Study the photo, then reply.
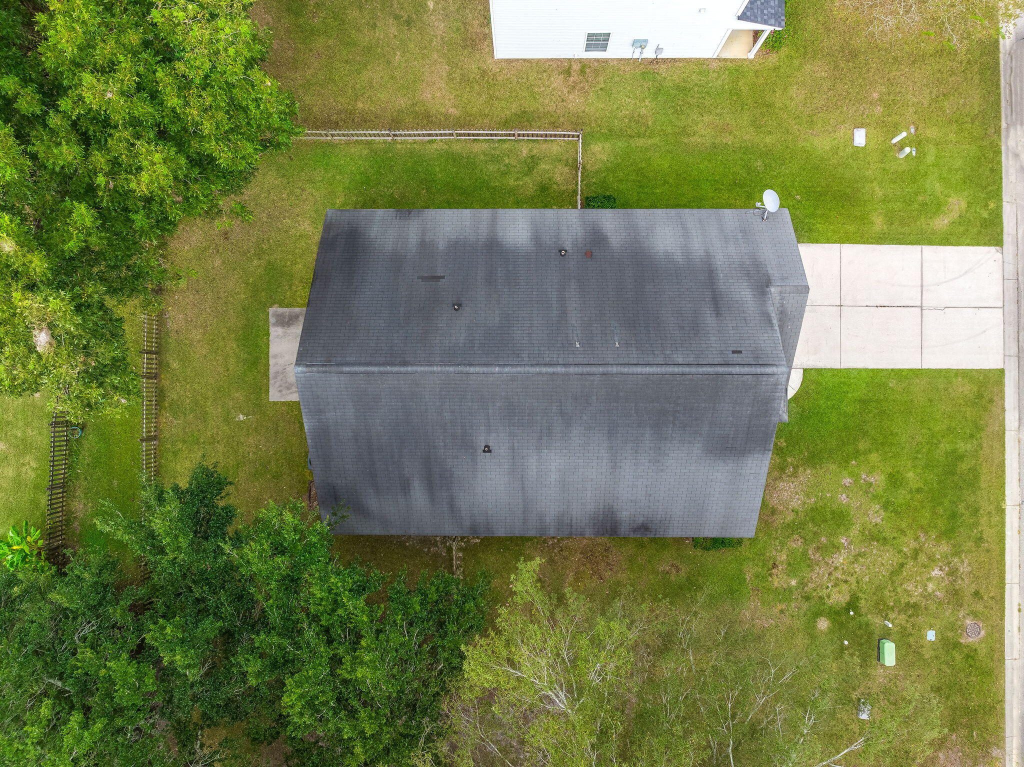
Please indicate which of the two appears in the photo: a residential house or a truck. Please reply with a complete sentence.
Of the two, only a residential house appears.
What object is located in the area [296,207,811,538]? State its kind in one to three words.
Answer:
house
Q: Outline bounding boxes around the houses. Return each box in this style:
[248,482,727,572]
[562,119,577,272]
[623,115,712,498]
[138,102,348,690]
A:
[296,207,811,538]
[490,0,785,59]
